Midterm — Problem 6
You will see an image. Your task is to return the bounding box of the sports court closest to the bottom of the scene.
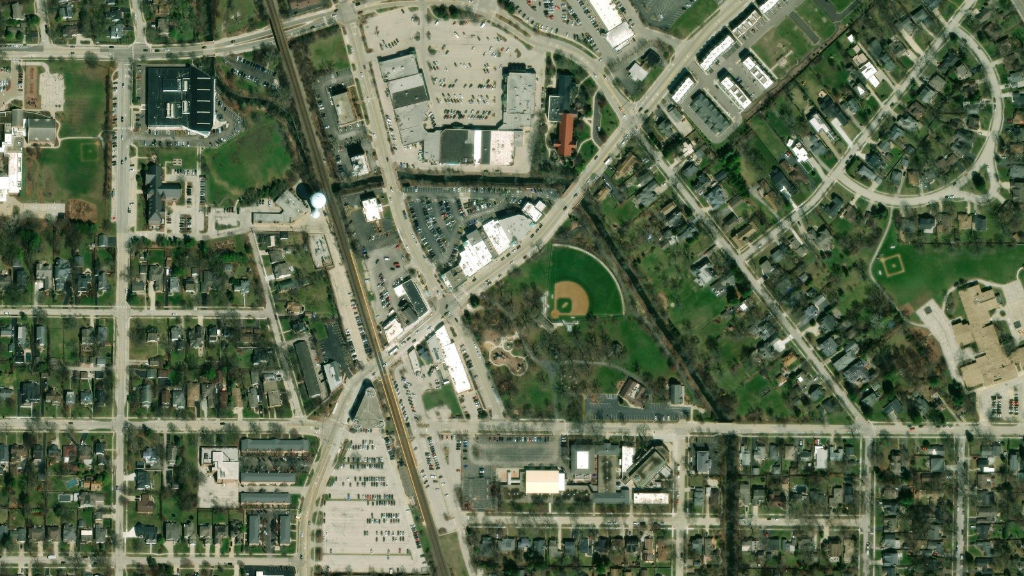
[0,195,65,219]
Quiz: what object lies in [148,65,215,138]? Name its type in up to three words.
building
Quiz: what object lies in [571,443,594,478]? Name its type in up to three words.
house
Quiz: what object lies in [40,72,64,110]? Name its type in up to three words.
sports court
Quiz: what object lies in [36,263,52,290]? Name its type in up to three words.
house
